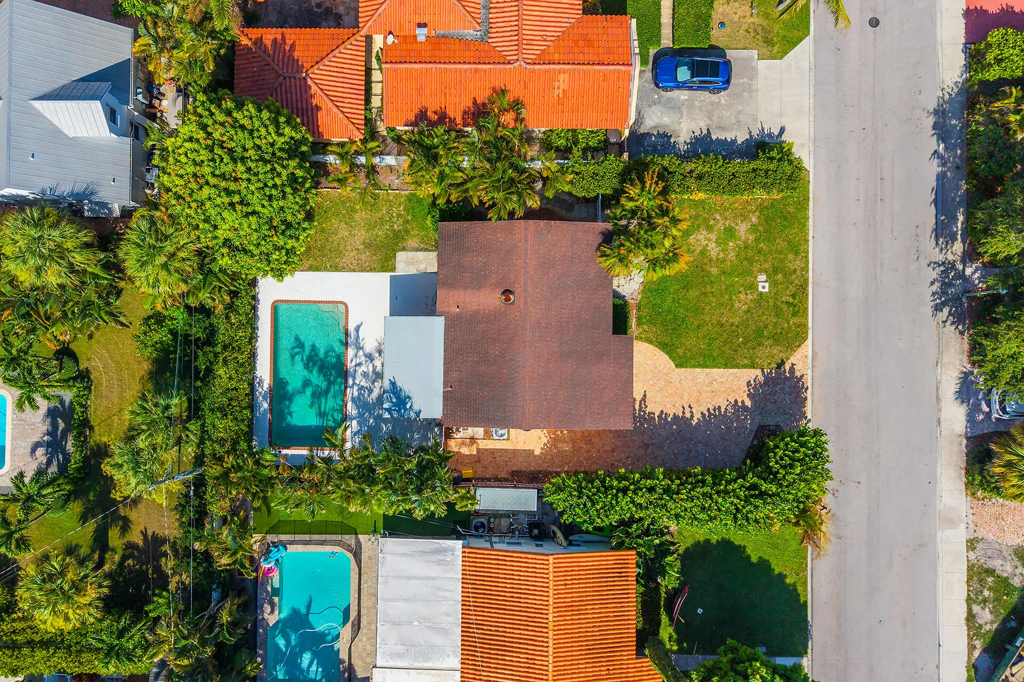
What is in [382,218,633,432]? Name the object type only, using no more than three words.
house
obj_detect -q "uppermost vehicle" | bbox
[654,50,735,92]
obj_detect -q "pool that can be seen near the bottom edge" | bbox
[265,550,352,682]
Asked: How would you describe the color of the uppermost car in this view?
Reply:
blue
